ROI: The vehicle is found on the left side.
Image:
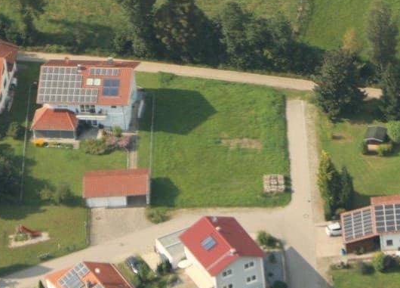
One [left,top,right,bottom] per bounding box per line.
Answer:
[122,255,146,275]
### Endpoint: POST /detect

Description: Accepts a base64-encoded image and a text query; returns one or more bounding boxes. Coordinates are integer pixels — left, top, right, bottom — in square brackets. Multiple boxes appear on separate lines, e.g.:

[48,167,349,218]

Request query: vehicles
[321,222,344,237]
[122,255,146,275]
